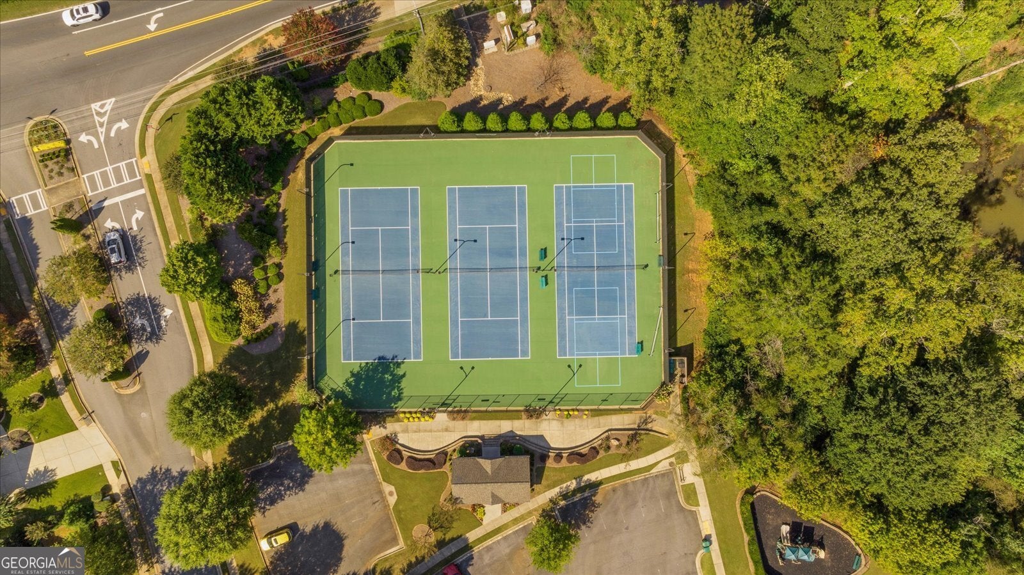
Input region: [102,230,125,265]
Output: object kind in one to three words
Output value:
car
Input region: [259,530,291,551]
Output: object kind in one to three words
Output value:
car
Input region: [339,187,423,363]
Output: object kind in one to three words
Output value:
tennis court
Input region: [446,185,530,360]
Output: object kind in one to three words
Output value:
tennis court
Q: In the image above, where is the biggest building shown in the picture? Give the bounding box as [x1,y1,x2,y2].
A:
[451,452,531,507]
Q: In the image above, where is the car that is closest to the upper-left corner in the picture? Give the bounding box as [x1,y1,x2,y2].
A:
[61,1,98,23]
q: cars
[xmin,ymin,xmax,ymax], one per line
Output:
[61,1,98,23]
[259,530,291,551]
[444,564,459,575]
[102,230,125,265]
